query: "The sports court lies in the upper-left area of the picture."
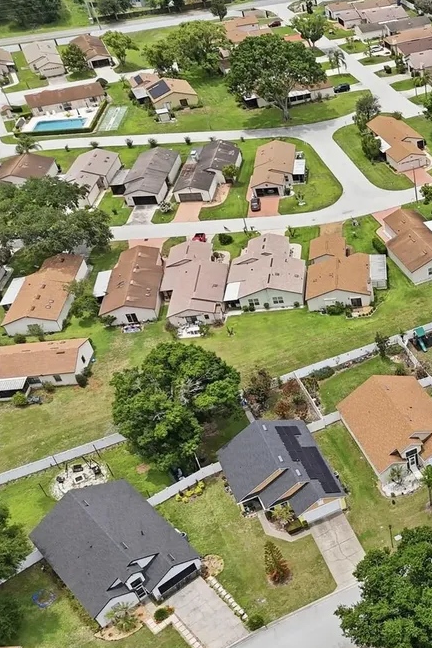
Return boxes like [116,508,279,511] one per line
[98,106,127,131]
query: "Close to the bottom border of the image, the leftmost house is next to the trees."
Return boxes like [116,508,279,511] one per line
[28,481,198,626]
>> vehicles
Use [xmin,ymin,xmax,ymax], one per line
[193,229,206,245]
[332,80,352,91]
[251,193,262,210]
[265,17,282,26]
[367,44,384,52]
